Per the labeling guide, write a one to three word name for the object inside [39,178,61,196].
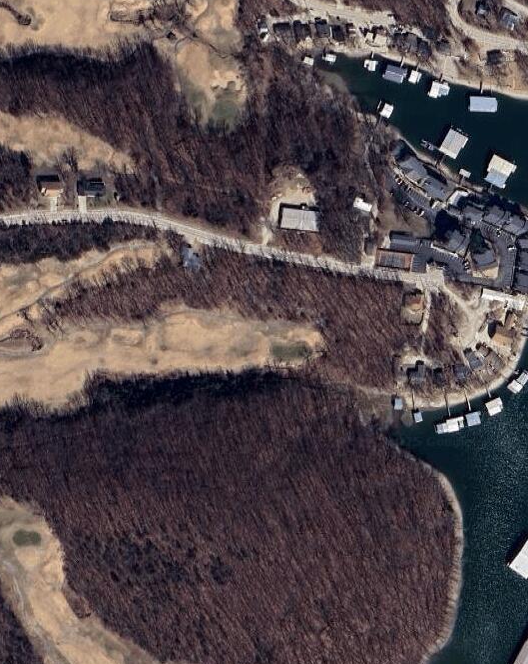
house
